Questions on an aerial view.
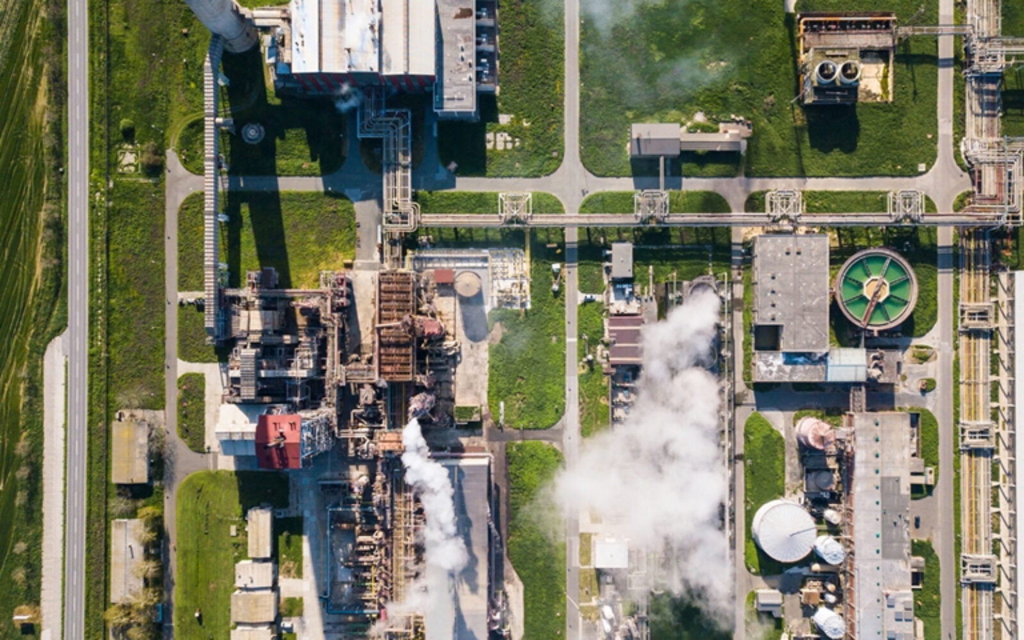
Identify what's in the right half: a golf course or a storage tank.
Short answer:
storage tank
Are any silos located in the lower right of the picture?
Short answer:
Yes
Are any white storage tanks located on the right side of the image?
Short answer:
Yes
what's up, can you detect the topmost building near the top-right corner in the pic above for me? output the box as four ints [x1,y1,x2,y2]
[795,13,897,98]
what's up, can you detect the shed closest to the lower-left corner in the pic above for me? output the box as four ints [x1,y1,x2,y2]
[11,604,44,625]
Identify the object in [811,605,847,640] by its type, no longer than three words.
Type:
silo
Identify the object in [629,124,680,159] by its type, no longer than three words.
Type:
building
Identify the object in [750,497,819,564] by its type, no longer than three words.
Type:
storage tank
